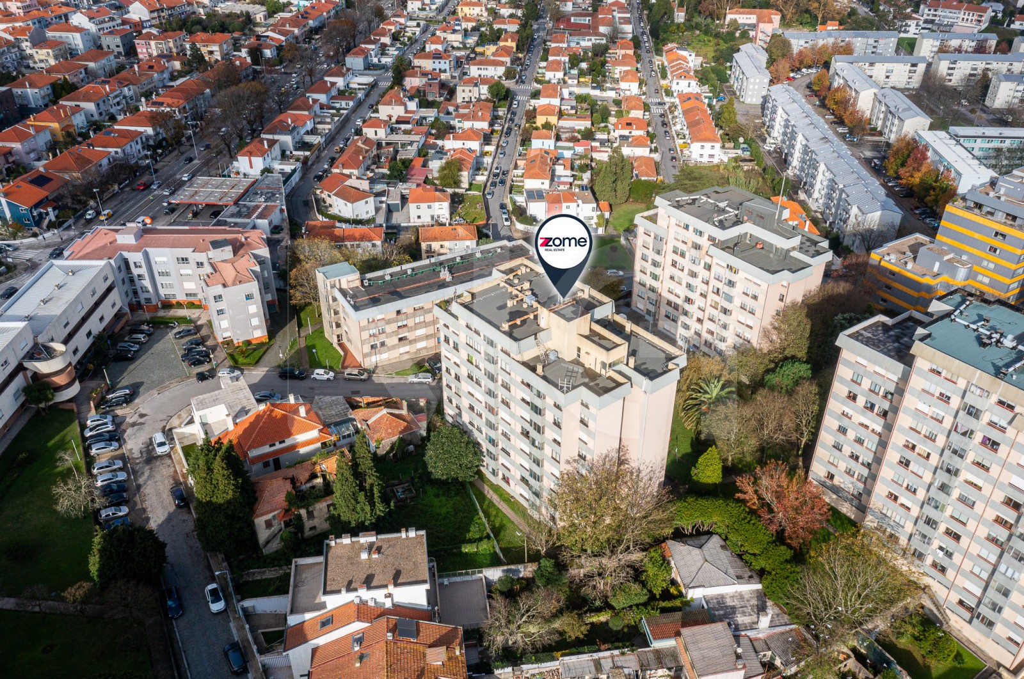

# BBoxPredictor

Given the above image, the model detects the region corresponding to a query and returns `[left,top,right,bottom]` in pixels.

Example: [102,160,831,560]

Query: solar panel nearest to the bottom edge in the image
[397,621,418,638]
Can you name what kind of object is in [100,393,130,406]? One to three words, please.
vehicle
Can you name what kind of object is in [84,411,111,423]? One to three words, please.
vehicle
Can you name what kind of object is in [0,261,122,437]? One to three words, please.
building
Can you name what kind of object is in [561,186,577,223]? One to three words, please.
house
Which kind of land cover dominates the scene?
buildings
